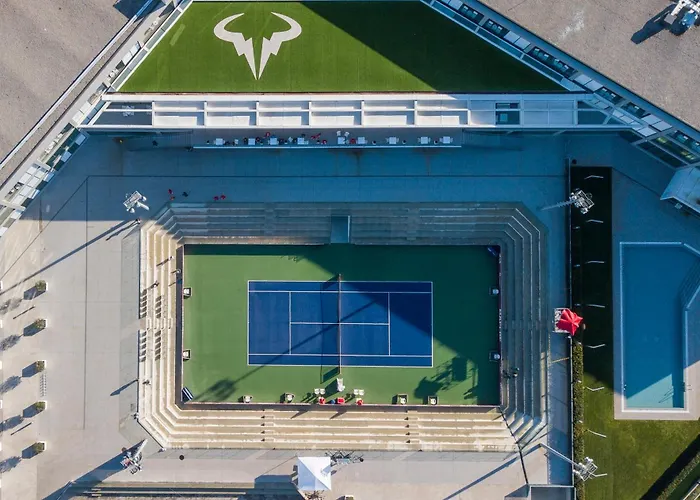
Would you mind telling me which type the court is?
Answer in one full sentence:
The court is a tennis court.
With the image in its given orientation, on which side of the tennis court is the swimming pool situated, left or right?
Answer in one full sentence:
Relative to the tennis court, the swimming pool is on the right.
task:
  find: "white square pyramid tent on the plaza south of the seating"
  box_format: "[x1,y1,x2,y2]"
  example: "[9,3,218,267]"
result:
[295,453,331,491]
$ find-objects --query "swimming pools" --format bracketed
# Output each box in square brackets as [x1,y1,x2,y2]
[616,241,700,411]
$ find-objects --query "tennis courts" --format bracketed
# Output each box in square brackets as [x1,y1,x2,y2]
[183,246,500,405]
